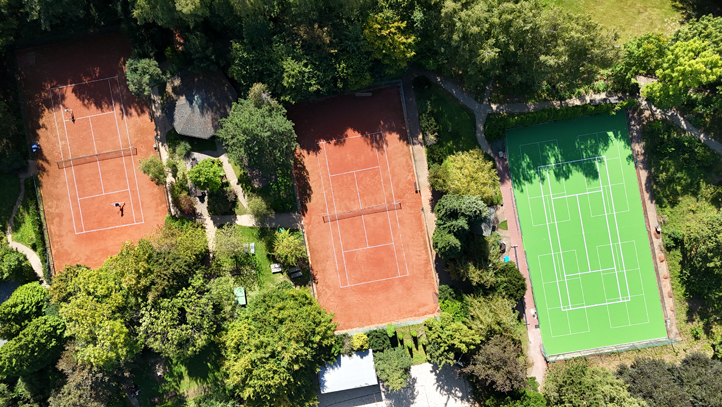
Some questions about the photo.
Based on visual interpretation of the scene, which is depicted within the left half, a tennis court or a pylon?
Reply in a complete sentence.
You can see a tennis court within the left half.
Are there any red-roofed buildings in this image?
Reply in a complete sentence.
No, I can't see a single red-roofed building in this photo.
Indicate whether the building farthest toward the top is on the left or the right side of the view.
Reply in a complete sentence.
It is on the left.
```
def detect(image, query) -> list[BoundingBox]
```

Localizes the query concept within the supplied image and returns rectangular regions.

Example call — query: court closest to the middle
[280,84,441,333]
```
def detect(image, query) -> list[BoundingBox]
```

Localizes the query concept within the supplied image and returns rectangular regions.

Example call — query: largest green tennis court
[508,109,665,357]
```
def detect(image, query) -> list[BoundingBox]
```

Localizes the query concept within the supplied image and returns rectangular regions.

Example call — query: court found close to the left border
[16,30,176,275]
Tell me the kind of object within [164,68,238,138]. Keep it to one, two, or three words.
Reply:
building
